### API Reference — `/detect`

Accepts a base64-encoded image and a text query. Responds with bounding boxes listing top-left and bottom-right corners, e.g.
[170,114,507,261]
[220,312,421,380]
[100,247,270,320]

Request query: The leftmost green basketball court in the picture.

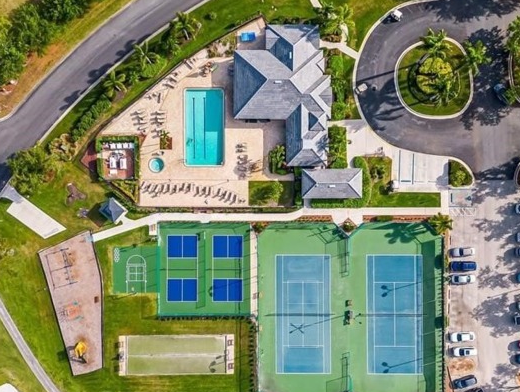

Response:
[113,246,157,292]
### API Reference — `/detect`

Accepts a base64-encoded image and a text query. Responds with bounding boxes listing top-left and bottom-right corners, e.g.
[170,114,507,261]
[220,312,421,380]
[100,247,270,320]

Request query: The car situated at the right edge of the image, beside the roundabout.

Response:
[490,81,510,106]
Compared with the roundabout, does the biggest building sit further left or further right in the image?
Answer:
left of it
